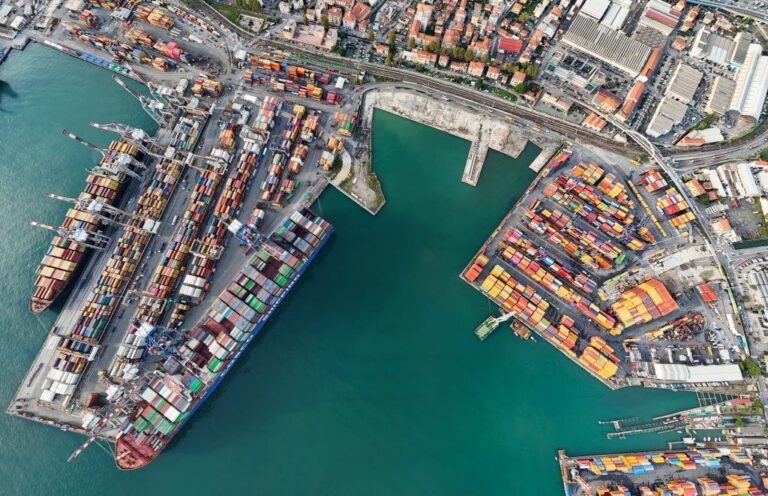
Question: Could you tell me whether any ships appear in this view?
Yes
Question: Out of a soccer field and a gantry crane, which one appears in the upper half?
gantry crane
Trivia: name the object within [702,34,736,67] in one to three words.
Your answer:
building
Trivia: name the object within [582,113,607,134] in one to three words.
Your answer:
house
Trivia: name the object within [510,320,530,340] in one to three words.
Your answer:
ship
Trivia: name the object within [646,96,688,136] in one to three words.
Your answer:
building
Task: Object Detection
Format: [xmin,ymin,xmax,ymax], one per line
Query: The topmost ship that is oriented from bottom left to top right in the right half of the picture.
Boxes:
[475,310,518,340]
